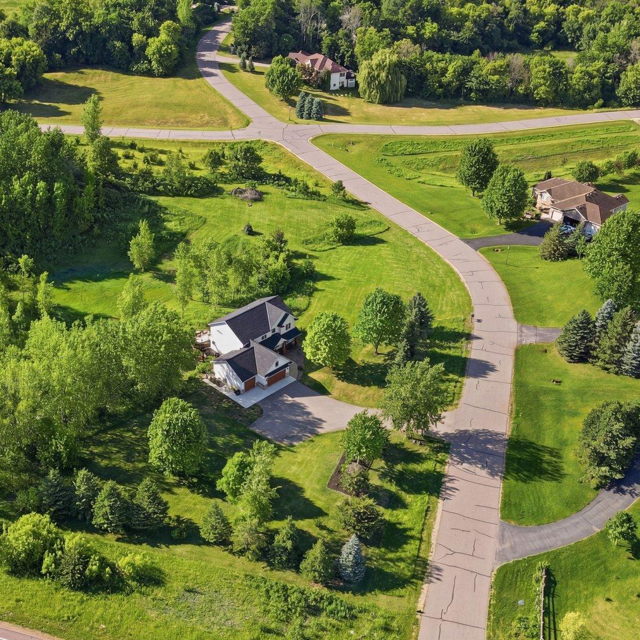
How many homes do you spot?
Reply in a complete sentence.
The number of homes here is 3.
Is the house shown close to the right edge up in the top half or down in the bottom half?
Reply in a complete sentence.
It is in the top half that the house shown close to the right edge appears.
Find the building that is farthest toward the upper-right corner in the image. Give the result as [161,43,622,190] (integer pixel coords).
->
[533,177,633,236]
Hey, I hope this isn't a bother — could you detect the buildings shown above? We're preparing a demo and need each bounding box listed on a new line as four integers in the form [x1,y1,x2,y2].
[209,296,303,393]
[283,50,357,90]
[533,177,633,236]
